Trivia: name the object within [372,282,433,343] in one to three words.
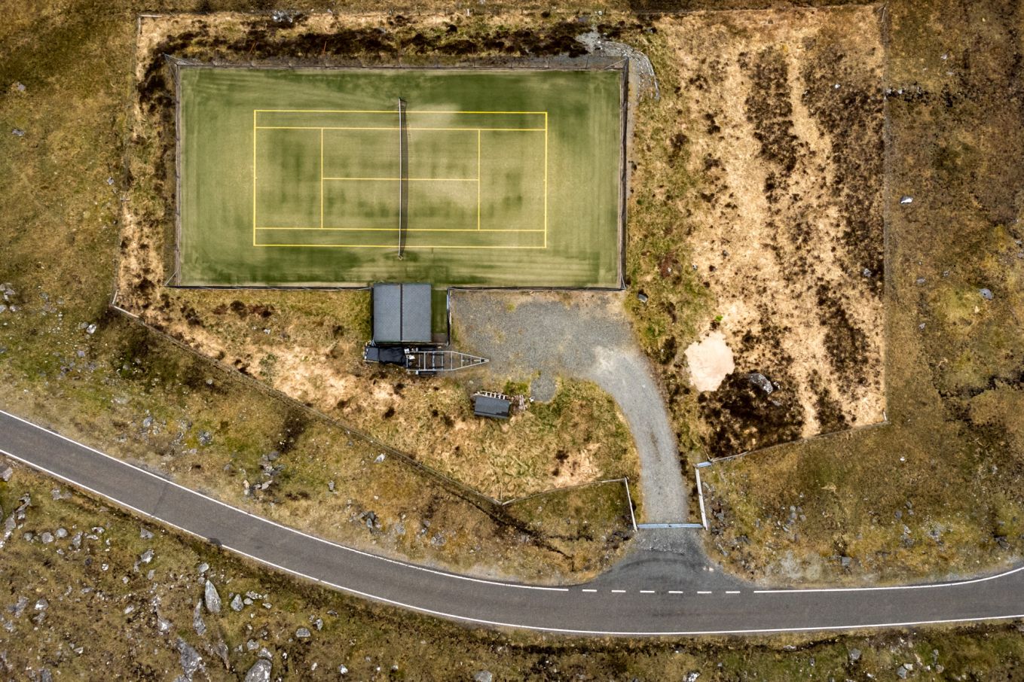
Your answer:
shed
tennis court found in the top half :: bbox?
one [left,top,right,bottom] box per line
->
[176,66,624,345]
